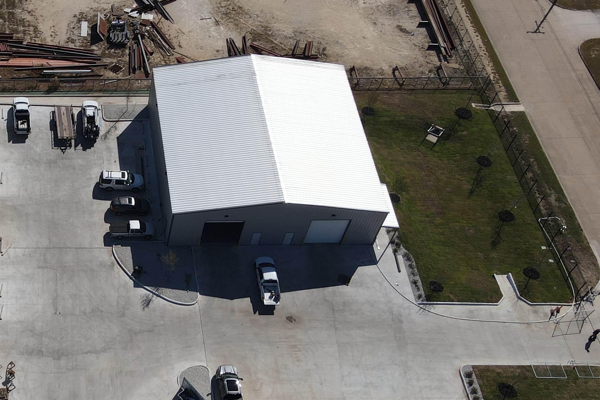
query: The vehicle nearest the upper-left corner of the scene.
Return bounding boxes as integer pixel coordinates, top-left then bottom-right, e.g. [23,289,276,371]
[12,97,34,139]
